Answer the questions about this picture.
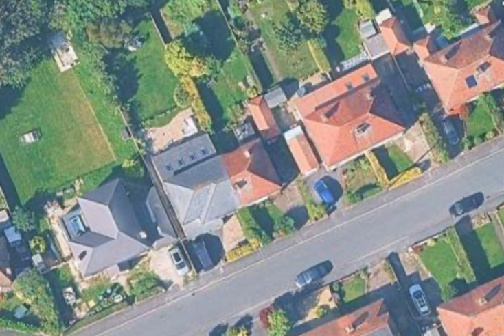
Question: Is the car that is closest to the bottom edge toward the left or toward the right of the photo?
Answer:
right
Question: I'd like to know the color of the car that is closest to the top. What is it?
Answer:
blue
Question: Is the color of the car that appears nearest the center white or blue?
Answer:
blue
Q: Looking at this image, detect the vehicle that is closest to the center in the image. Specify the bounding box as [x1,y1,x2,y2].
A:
[311,176,335,207]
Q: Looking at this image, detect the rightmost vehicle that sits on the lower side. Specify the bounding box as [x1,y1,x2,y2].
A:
[448,191,485,218]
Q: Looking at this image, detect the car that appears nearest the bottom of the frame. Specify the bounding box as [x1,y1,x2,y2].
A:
[408,282,430,314]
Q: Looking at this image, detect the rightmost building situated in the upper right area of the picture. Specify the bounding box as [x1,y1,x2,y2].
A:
[413,5,504,114]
